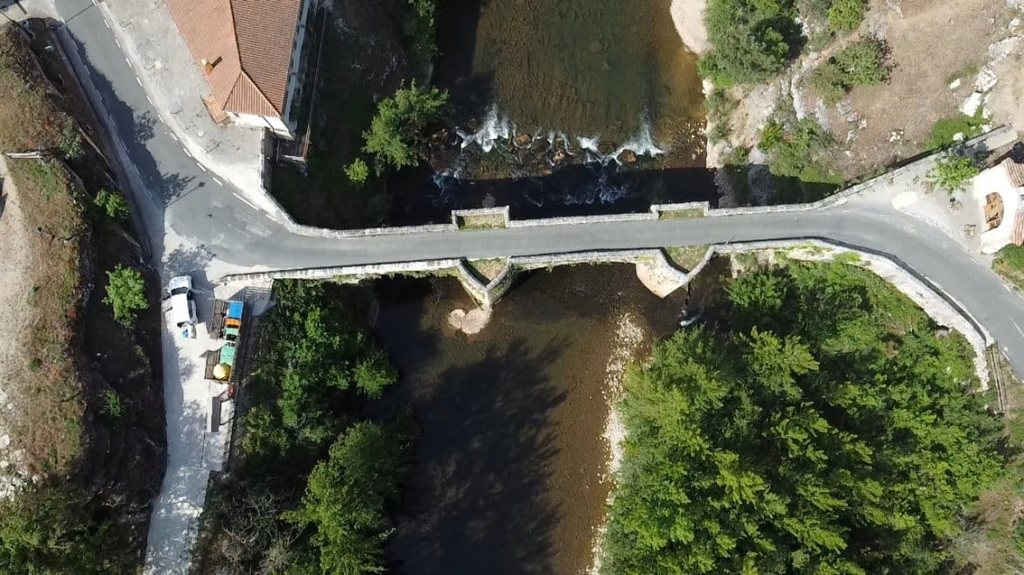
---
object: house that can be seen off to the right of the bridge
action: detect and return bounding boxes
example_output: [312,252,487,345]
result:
[977,151,1024,253]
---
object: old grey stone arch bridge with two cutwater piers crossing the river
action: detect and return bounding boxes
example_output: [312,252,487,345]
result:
[219,187,843,304]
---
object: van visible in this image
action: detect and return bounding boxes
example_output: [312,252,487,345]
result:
[166,276,200,335]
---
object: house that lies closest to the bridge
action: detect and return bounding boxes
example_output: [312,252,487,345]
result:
[165,0,332,167]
